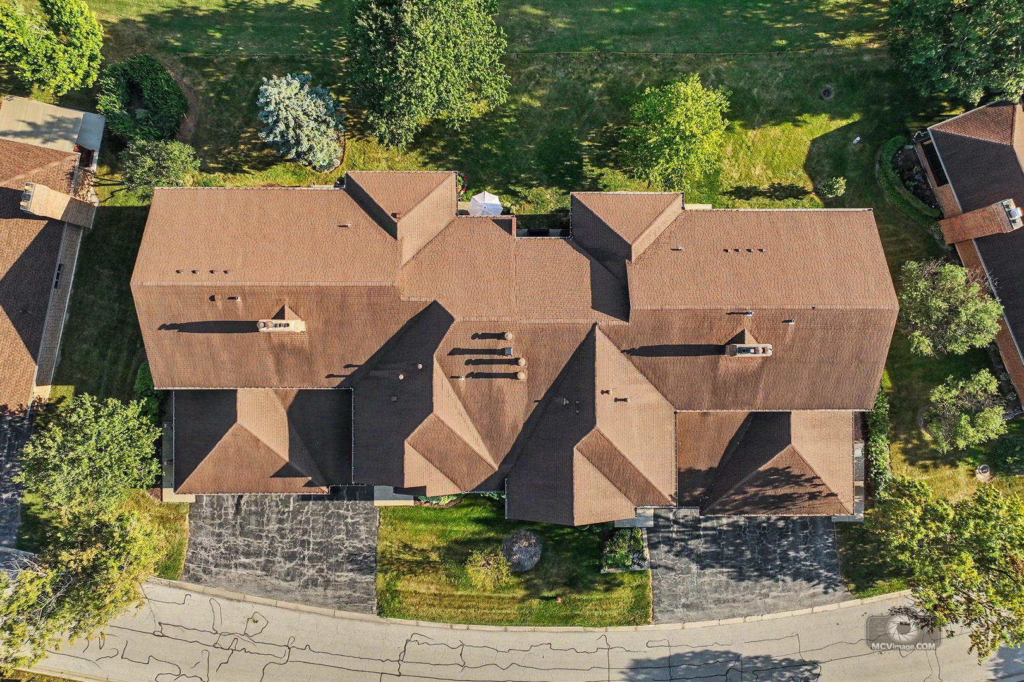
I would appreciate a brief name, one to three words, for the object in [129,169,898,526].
house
